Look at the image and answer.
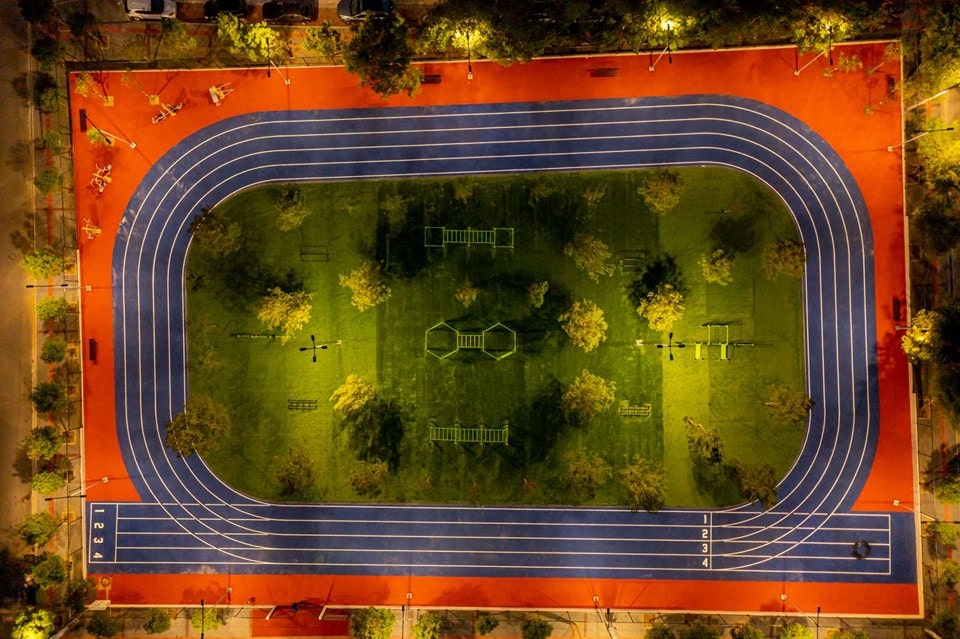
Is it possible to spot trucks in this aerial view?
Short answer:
No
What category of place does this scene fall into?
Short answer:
sports ground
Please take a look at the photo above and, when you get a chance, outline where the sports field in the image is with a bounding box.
[188,166,806,508]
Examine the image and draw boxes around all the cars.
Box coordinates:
[261,0,317,22]
[338,0,393,22]
[200,0,250,21]
[120,0,174,22]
